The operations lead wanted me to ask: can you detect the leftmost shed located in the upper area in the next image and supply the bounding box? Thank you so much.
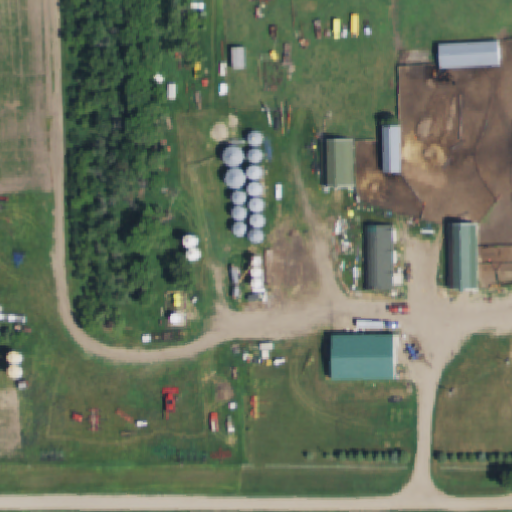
[232,46,245,70]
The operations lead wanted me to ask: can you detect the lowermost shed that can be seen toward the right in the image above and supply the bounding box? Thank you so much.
[330,333,395,380]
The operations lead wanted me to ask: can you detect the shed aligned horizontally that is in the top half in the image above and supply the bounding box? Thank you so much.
[438,40,500,70]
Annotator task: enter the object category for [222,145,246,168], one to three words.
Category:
silo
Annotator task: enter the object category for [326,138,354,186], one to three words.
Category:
barn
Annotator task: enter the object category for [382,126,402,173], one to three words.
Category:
shed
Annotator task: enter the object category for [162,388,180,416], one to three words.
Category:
work vehicle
